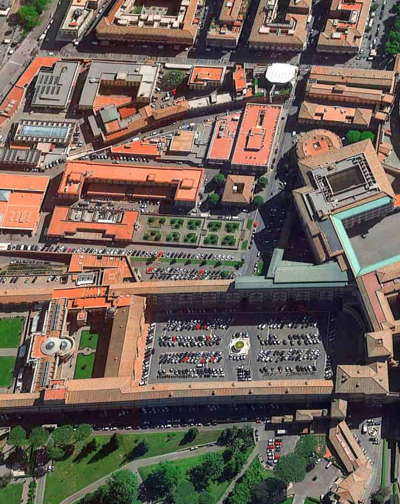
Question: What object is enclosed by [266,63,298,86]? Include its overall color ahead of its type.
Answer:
white tent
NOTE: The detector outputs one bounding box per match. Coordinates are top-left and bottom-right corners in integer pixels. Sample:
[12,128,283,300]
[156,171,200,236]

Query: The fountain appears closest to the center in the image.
[227,337,250,354]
